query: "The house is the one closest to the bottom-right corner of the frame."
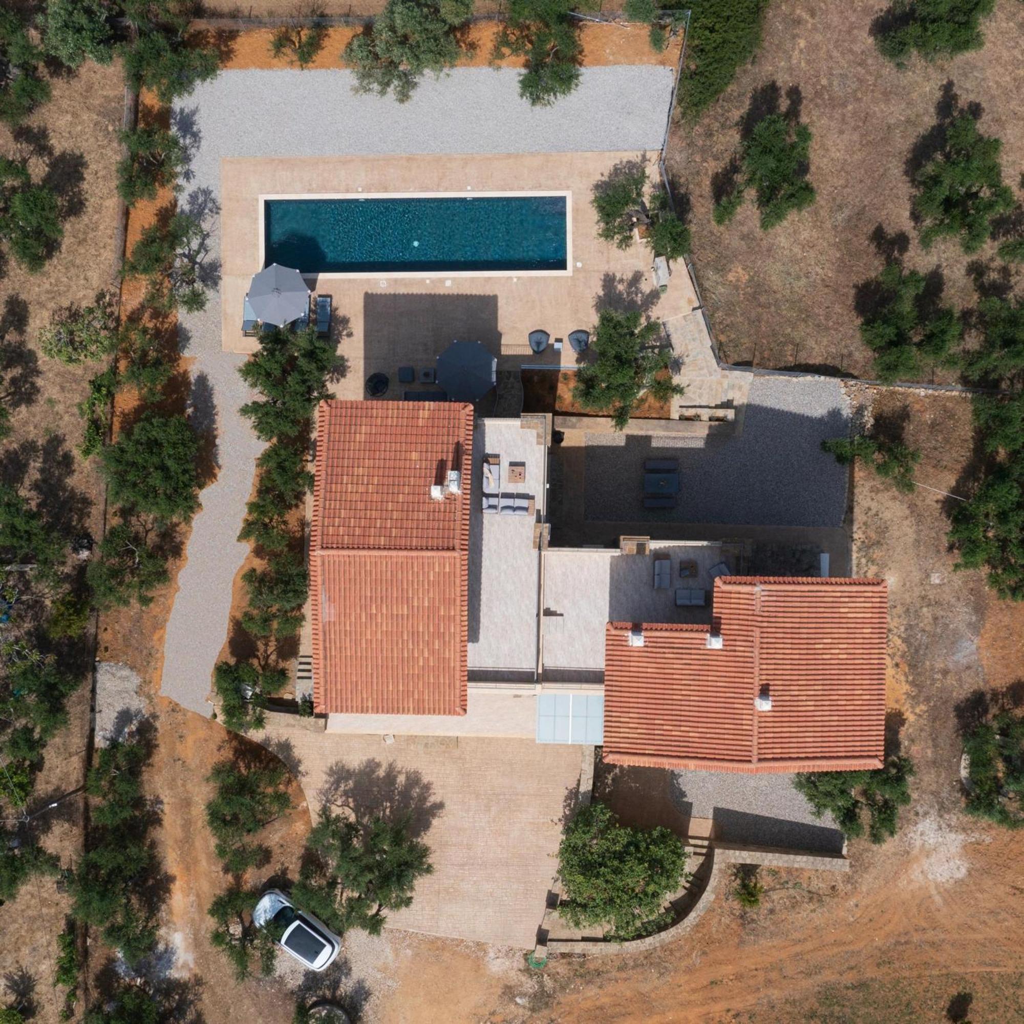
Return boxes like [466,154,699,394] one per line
[535,537,894,775]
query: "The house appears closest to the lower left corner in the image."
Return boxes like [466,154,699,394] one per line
[307,398,552,720]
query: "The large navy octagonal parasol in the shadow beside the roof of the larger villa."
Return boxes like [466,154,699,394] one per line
[436,340,497,401]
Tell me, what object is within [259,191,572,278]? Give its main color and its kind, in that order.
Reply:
blue swimming pool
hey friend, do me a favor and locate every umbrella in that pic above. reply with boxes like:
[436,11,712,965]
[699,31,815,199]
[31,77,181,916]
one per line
[436,340,497,401]
[247,264,311,328]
